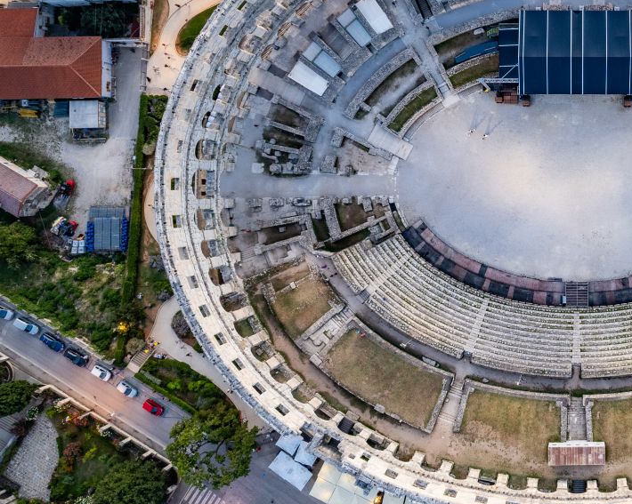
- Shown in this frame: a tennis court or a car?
car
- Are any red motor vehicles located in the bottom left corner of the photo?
Yes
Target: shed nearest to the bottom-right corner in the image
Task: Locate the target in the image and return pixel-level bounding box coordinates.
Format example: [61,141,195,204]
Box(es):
[549,440,605,466]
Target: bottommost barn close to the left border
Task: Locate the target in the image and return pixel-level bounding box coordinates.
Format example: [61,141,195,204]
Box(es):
[0,155,54,217]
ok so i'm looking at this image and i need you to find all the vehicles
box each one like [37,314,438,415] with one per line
[63,345,90,365]
[38,331,66,351]
[115,379,140,398]
[89,362,114,381]
[141,397,166,416]
[49,180,73,208]
[10,314,41,336]
[47,216,77,240]
[0,304,17,322]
